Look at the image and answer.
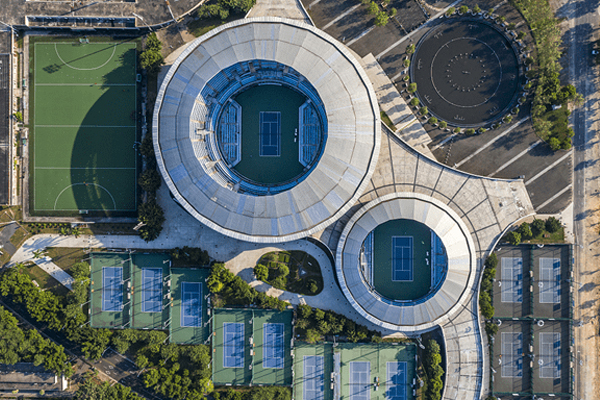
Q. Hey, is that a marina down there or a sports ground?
sports ground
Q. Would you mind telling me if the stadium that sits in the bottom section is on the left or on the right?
right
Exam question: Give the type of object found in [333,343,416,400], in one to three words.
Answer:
tennis court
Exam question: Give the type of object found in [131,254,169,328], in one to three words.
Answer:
tennis court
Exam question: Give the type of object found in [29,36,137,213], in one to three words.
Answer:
sports field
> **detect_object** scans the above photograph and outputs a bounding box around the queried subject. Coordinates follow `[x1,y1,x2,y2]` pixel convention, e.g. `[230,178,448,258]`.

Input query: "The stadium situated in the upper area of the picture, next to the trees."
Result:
[152,16,380,244]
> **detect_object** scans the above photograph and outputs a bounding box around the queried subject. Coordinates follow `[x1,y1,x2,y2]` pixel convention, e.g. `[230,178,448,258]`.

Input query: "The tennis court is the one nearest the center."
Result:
[259,111,281,156]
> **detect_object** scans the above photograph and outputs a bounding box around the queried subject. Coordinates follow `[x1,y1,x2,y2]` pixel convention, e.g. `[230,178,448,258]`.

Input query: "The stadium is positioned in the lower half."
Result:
[336,192,475,331]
